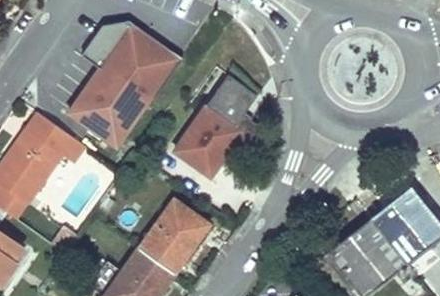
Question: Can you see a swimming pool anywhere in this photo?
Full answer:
Yes, a swimming pool is visible in the scene.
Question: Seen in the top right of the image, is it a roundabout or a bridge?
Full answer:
There is a roundabout in the top right of the image.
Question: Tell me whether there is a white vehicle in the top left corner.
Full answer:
Yes, a white vehicle can be seen in the top left corner.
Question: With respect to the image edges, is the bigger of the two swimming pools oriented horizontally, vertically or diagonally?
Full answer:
I'd say the bigger of the two swimming pools is aligned diagonally in the picture.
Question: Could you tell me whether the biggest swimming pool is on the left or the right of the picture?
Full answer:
It is on the left.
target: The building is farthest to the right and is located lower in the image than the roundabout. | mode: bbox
[324,188,440,296]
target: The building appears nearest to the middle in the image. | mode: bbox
[174,106,246,181]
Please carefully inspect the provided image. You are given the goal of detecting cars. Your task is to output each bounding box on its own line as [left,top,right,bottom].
[78,13,96,34]
[14,13,33,33]
[180,176,200,194]
[269,10,289,29]
[242,252,258,274]
[160,153,180,171]
[176,0,192,18]
[334,18,355,33]
[36,0,45,11]
[399,18,421,31]
[250,0,270,14]
[424,84,440,100]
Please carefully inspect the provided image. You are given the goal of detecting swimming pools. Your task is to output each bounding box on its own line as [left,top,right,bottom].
[60,172,101,219]
[119,208,138,228]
